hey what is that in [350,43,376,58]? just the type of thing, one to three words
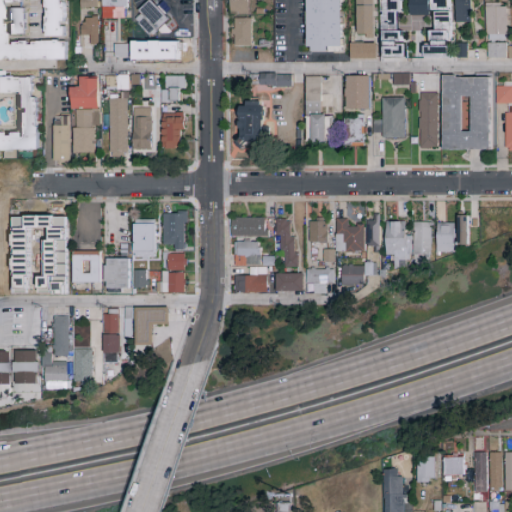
building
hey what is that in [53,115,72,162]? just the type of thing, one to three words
building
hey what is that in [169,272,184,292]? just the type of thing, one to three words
house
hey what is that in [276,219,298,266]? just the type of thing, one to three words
house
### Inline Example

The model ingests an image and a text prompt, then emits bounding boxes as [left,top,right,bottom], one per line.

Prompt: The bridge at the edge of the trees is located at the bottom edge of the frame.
[120,346,218,512]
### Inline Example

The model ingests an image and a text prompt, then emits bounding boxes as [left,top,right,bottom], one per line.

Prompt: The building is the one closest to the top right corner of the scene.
[486,3,508,42]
